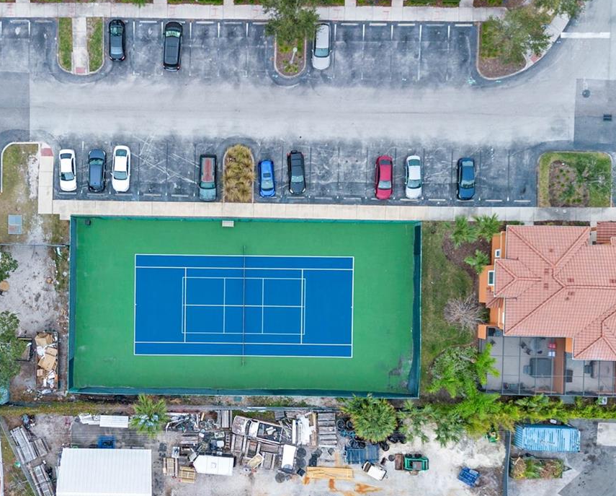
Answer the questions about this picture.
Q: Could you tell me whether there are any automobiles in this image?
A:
Yes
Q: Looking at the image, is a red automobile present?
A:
Yes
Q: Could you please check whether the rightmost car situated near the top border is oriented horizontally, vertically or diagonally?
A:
vertically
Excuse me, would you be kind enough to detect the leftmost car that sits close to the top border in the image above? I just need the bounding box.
[107,20,126,62]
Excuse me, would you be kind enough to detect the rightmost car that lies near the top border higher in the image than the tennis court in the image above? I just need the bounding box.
[312,23,332,70]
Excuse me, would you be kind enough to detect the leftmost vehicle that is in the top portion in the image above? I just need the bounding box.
[57,149,79,192]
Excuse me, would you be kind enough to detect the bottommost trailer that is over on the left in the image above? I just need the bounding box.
[185,451,234,476]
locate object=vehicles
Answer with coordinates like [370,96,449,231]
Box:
[360,461,387,481]
[87,149,107,193]
[57,149,79,192]
[198,154,217,201]
[162,21,184,72]
[392,449,427,471]
[312,23,332,70]
[404,154,425,200]
[233,415,291,445]
[107,20,126,62]
[258,159,276,198]
[456,157,477,201]
[286,148,307,196]
[111,145,131,193]
[374,154,394,201]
